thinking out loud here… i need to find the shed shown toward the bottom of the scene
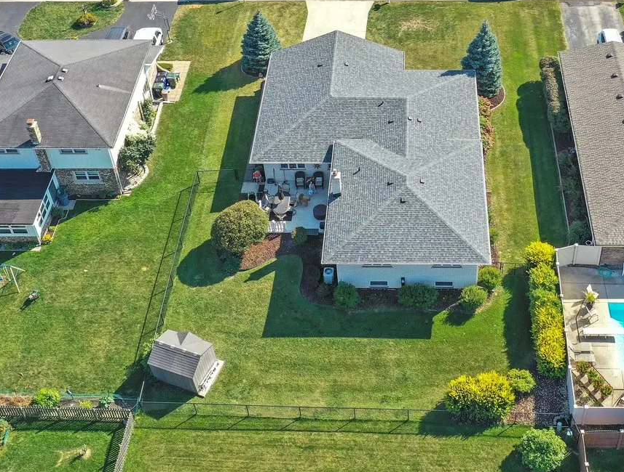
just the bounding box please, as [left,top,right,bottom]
[151,332,222,394]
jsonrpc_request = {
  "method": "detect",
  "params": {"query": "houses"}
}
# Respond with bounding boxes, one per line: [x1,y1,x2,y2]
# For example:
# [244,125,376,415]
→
[0,39,155,248]
[557,40,624,265]
[246,33,493,295]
